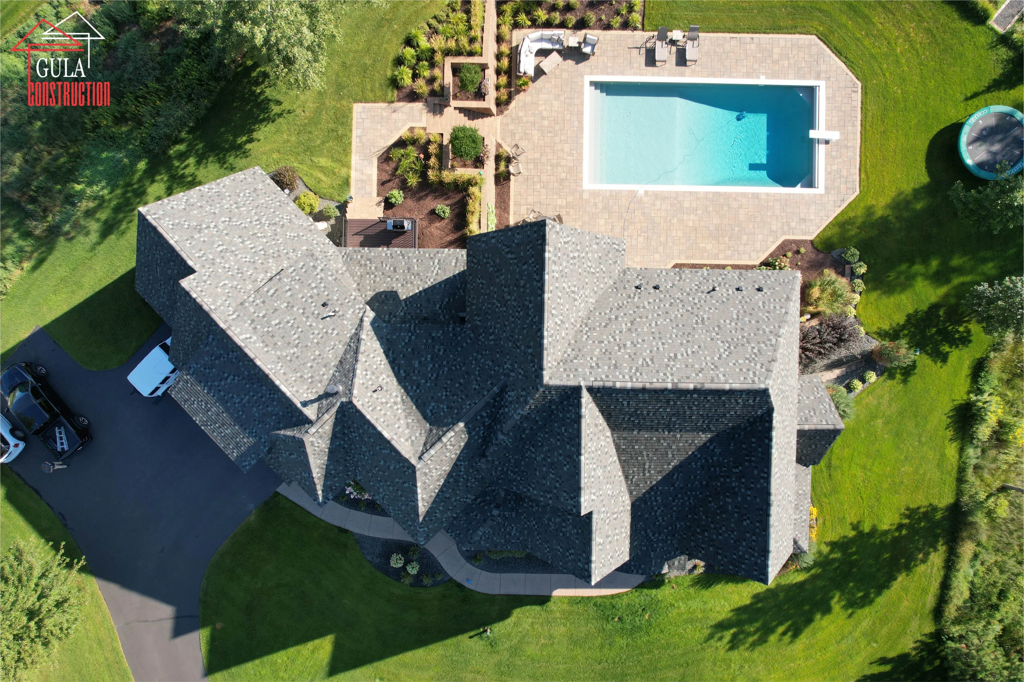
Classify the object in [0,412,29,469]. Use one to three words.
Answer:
car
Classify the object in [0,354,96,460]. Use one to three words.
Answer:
truck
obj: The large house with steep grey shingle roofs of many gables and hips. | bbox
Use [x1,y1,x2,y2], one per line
[135,166,844,586]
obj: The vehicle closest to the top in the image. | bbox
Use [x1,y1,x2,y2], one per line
[121,327,181,402]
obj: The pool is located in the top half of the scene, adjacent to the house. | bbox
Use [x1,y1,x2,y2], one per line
[583,69,826,199]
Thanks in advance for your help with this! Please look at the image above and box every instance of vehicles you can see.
[0,354,96,460]
[121,327,181,402]
[0,412,29,469]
